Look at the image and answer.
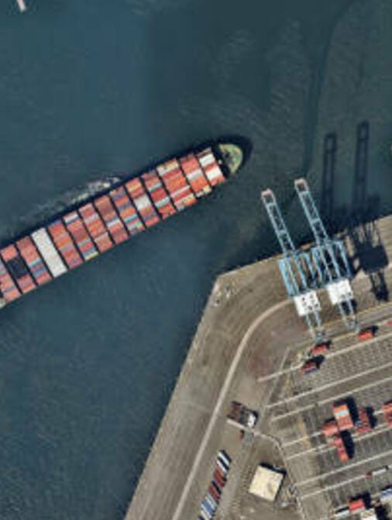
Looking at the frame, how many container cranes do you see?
2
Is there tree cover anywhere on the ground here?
No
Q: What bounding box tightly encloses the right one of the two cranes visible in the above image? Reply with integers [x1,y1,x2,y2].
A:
[294,179,357,329]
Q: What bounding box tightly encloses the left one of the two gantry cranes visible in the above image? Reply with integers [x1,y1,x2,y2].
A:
[262,191,325,341]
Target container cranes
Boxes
[294,179,357,329]
[262,191,325,341]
